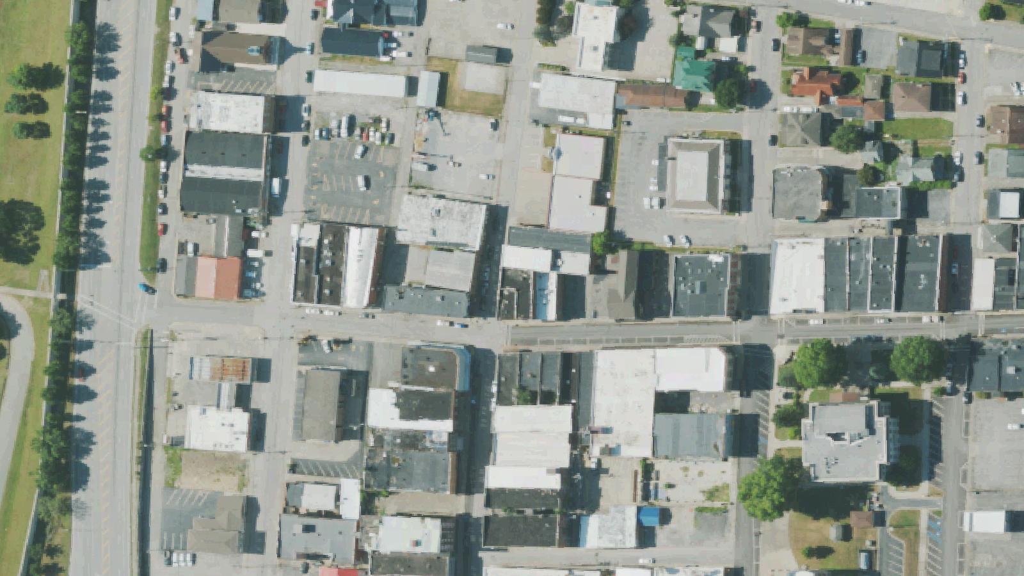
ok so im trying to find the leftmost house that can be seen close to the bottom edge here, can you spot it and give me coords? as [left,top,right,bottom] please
[188,496,247,554]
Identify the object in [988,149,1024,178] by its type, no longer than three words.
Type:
house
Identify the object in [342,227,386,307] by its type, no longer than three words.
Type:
building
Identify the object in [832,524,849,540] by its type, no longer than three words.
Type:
gazebo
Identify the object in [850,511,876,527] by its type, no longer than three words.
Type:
shed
